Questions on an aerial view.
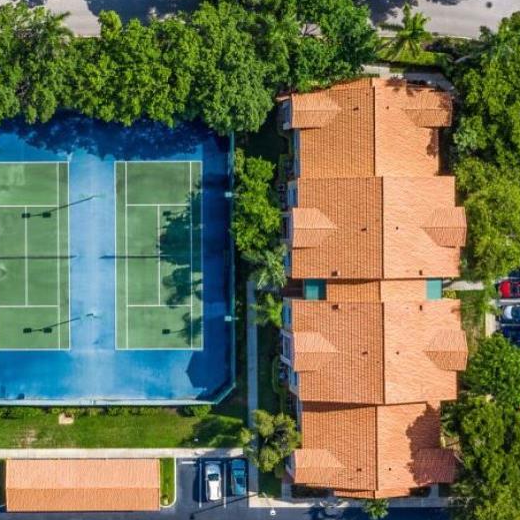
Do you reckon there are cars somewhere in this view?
Yes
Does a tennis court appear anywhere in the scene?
Yes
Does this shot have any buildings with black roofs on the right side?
No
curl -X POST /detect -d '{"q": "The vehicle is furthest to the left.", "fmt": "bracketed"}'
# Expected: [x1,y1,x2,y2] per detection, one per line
[205,461,223,500]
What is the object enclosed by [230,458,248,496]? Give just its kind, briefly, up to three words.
car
